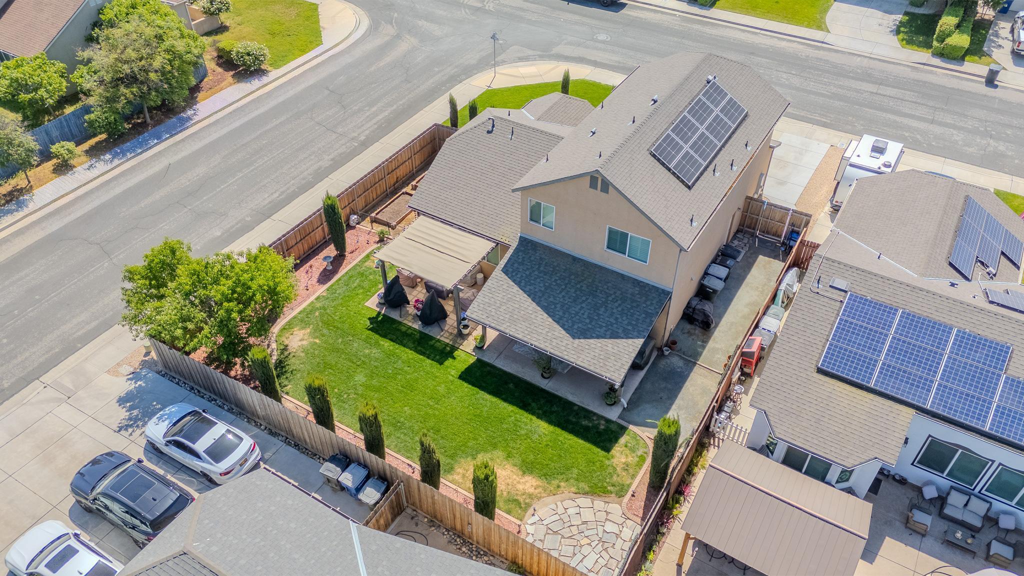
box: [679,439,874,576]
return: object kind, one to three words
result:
gazebo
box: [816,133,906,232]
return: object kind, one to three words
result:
vehicle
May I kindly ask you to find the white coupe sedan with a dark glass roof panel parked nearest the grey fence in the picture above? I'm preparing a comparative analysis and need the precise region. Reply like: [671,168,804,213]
[139,401,255,485]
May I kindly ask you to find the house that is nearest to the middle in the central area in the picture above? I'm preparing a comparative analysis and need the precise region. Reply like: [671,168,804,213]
[403,48,791,423]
